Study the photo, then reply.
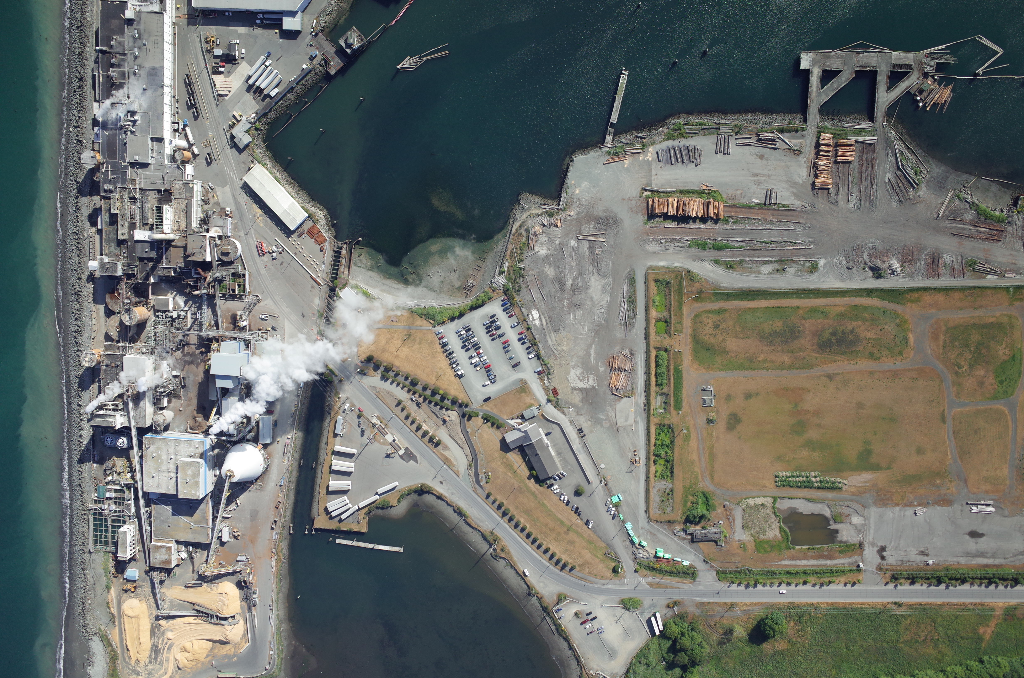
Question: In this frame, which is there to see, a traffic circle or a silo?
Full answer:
There is a silo in the scene.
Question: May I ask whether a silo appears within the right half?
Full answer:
No, no silo appears within the right half.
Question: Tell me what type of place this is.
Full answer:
This image shows a port.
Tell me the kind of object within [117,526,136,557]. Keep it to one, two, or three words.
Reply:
building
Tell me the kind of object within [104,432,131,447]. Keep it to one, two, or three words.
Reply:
cooling tower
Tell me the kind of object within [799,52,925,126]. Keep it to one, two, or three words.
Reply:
pier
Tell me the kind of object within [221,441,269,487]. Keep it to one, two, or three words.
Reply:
silo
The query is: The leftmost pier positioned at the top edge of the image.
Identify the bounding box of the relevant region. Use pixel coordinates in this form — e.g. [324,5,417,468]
[311,30,349,75]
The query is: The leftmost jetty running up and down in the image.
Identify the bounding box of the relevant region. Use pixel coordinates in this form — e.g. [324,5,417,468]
[604,71,628,144]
